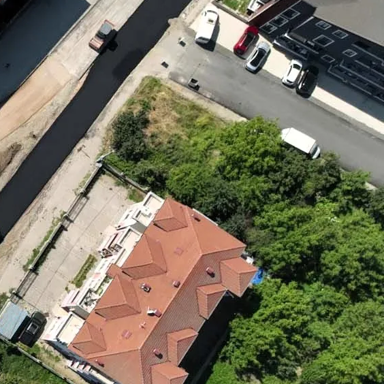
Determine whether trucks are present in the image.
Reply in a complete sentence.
Yes, the picture does show a truck.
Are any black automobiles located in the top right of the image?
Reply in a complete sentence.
Yes, looking in the top right of the image, one can make out a black automobile.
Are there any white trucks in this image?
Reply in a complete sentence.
Yes, there's a white truck here.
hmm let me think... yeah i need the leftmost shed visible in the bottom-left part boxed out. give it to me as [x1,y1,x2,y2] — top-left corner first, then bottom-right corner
[0,299,29,343]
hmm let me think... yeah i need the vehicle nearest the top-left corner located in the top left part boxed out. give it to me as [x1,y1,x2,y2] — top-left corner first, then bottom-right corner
[88,22,115,52]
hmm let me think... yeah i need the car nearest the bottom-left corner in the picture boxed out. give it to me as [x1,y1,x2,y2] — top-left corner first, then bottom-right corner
[19,312,43,341]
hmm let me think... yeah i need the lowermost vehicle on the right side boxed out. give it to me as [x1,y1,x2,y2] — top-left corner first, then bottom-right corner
[273,127,320,161]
